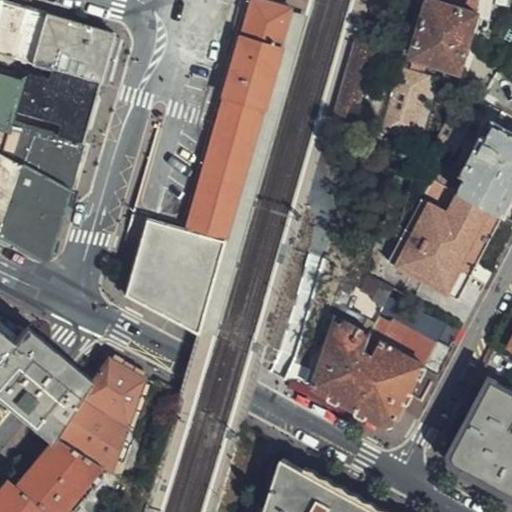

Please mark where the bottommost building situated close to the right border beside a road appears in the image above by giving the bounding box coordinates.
[442,374,512,512]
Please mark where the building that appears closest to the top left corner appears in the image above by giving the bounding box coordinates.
[0,2,43,66]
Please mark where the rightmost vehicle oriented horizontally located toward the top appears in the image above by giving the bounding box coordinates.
[188,65,211,78]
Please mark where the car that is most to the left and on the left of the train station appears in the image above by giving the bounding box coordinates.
[2,249,24,266]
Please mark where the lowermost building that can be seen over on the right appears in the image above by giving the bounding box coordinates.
[260,454,394,512]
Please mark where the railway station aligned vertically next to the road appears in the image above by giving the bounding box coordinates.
[149,0,358,512]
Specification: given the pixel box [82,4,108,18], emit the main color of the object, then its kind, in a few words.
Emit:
white vehicle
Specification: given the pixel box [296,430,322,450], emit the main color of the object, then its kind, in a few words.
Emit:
white vehicle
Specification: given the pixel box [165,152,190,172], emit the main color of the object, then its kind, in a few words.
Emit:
gray car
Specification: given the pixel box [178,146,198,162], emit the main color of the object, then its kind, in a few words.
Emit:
white car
